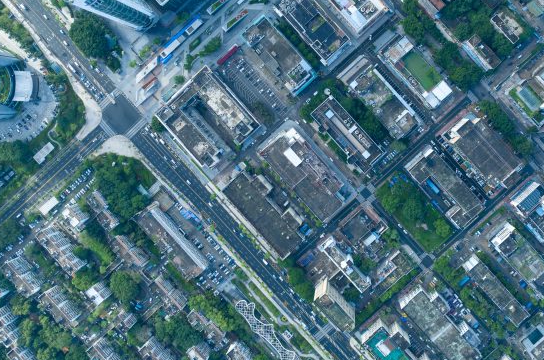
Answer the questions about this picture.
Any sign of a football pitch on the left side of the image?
No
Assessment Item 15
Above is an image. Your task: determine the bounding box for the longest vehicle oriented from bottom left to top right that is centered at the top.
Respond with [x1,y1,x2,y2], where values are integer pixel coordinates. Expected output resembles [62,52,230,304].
[218,46,238,64]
